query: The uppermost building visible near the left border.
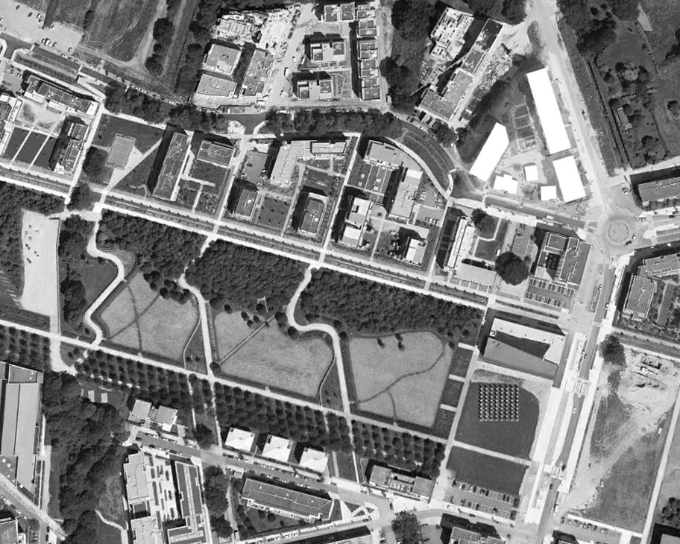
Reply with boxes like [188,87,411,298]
[23,75,99,116]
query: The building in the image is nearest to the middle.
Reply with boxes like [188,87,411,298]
[342,226,363,247]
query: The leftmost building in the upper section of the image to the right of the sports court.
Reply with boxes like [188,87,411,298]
[152,133,190,199]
